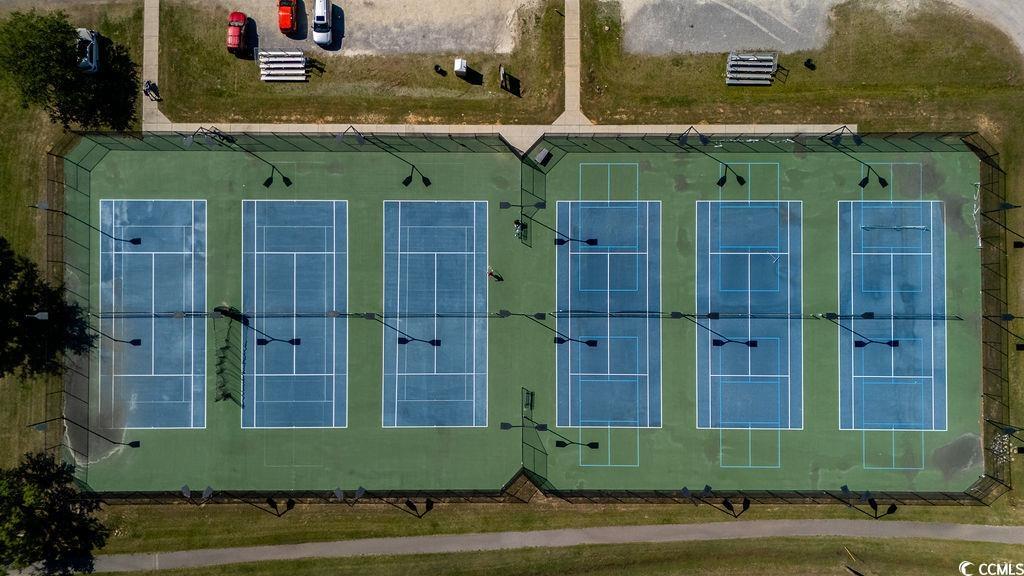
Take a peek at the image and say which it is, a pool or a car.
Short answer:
car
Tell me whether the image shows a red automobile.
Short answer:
Yes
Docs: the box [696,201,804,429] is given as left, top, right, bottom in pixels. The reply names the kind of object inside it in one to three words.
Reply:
tennis court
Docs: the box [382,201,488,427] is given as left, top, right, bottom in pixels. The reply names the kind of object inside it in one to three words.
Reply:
tennis court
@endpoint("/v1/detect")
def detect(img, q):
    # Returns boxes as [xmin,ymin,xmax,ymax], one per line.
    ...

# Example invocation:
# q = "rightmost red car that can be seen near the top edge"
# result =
[276,0,299,34]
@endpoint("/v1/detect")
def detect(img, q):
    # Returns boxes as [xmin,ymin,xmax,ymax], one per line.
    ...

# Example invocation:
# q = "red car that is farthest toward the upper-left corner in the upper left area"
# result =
[225,12,248,53]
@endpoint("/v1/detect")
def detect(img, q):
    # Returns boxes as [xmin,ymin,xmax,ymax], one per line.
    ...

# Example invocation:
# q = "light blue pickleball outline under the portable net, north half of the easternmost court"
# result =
[862,163,923,292]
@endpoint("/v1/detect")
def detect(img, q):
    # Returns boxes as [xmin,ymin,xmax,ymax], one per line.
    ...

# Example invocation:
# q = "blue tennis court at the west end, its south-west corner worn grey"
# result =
[99,200,207,429]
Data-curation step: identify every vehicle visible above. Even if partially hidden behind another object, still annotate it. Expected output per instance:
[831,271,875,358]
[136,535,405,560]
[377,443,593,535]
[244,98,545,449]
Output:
[79,31,100,76]
[311,0,334,47]
[225,12,248,53]
[276,0,299,34]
